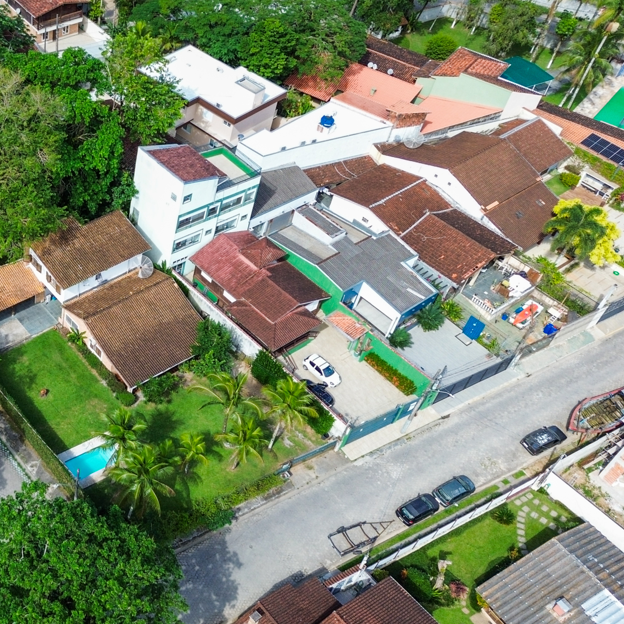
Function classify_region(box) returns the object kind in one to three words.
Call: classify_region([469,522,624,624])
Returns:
house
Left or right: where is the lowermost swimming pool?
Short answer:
left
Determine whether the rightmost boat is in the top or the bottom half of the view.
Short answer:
bottom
